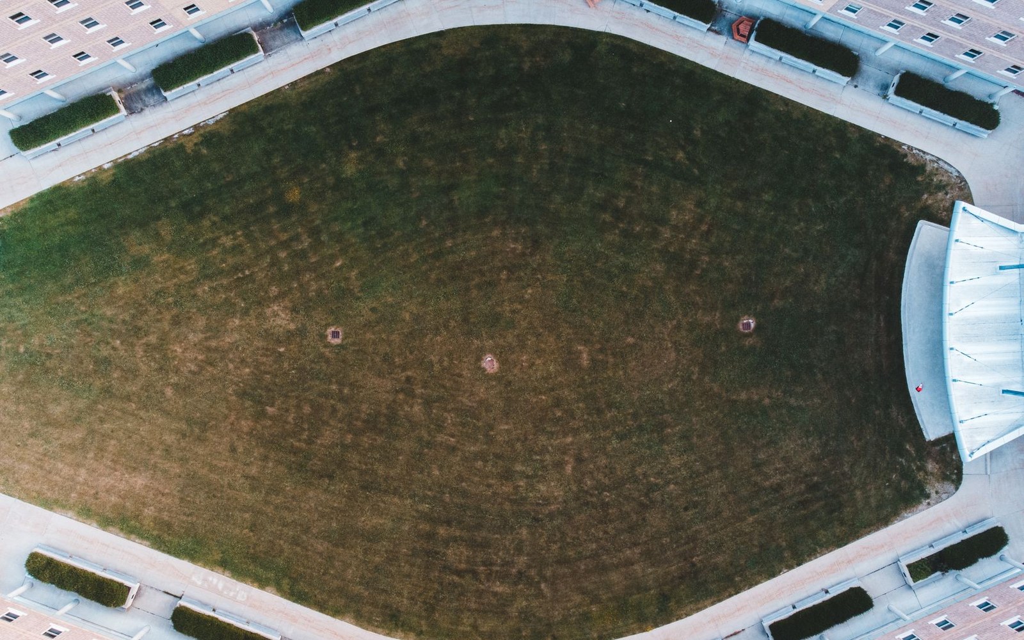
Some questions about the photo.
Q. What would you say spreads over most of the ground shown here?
grass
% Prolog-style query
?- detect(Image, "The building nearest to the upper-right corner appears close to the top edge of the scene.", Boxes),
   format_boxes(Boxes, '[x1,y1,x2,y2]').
[776,0,1024,100]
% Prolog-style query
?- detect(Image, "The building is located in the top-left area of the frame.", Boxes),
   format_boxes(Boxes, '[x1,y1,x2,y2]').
[0,0,274,121]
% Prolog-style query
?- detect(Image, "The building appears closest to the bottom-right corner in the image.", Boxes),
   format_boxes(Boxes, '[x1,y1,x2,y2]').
[849,555,1024,640]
